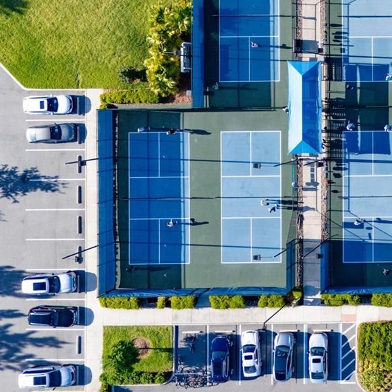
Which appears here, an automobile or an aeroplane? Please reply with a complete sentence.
The one in the frame is an automobile.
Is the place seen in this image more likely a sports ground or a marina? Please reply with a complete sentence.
What you see here is a sports ground.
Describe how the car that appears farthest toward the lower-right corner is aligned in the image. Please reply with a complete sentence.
The car that appears farthest toward the lower-right corner is oriented vertically.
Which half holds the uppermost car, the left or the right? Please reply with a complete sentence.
The uppermost car appears in the left half of the scene.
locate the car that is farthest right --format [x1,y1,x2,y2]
[305,332,329,384]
